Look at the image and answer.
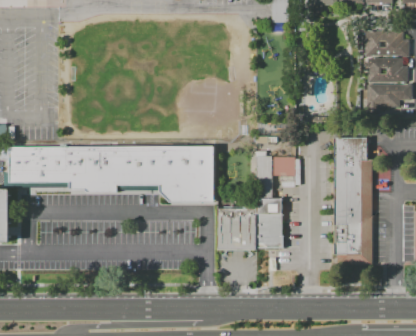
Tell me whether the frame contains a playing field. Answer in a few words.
Yes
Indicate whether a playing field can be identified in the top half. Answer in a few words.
Yes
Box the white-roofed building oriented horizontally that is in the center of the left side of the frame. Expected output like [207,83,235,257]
[4,147,218,206]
